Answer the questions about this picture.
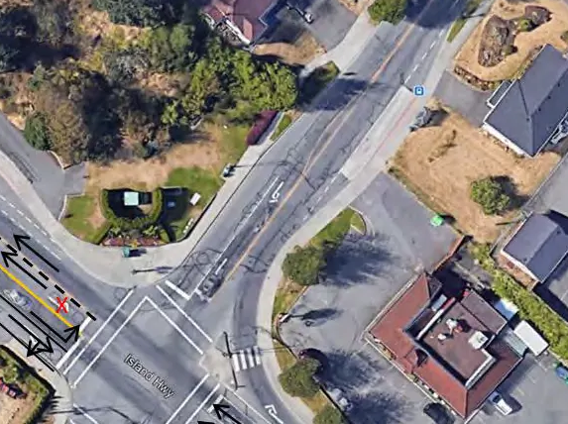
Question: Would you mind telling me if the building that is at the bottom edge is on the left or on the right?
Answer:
right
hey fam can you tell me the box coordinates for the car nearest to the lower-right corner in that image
[485,390,517,419]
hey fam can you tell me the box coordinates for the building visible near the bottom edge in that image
[369,273,527,418]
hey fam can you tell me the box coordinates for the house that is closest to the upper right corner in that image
[476,44,568,160]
